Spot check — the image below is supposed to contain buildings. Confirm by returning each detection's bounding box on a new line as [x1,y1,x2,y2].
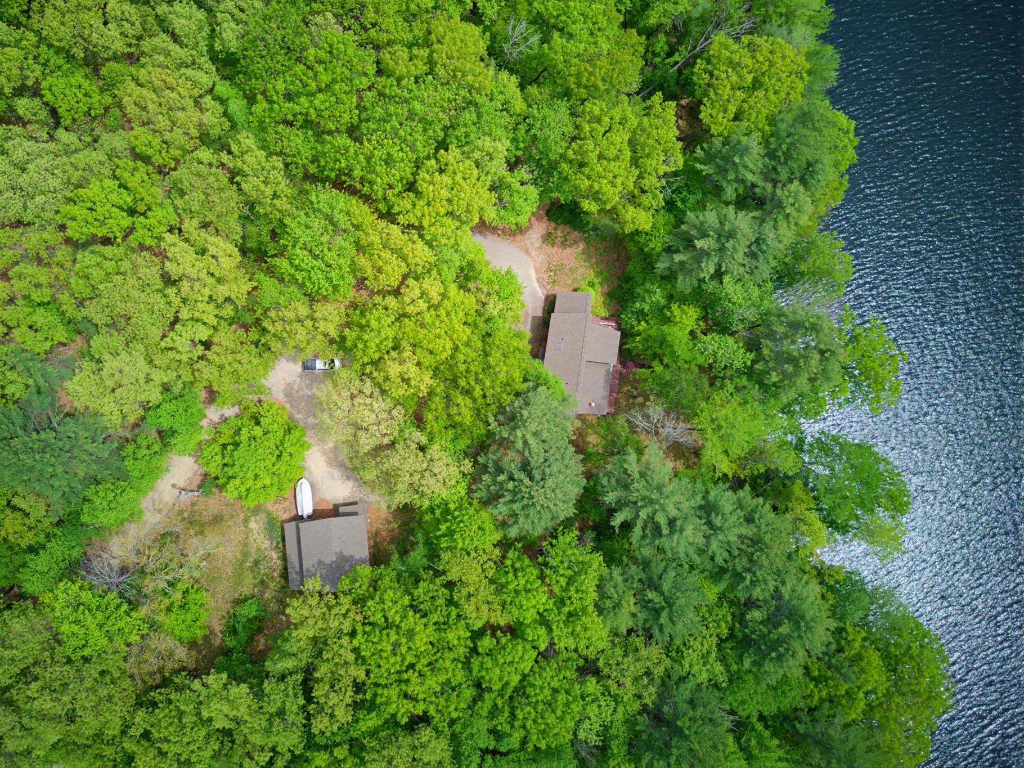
[284,502,375,592]
[541,292,622,415]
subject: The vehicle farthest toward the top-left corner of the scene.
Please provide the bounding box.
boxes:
[302,357,343,373]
